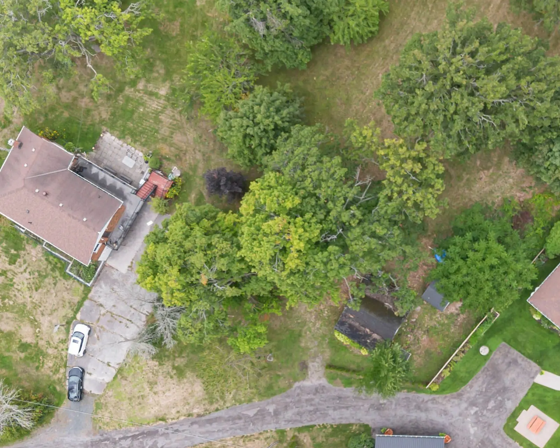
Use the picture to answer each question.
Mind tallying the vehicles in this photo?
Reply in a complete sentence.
The picture shows 2 vehicles.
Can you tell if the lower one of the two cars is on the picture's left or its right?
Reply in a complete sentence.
The lower one of the two cars sits on the left side.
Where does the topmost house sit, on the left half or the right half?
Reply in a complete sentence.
It is on the left.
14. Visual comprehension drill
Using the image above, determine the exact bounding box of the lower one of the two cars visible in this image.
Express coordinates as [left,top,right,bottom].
[65,365,85,402]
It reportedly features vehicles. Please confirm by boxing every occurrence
[69,321,93,359]
[65,365,85,402]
